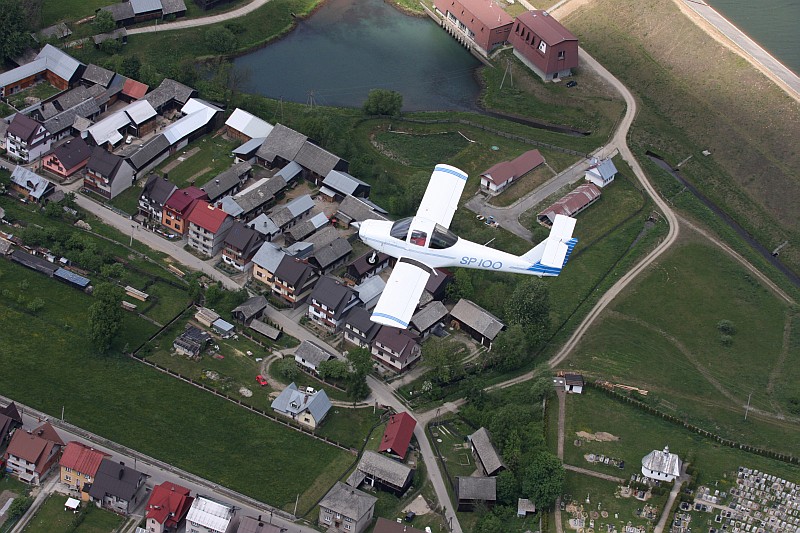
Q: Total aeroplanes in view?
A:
1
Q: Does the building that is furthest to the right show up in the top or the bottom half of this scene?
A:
bottom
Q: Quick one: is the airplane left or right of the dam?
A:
to the left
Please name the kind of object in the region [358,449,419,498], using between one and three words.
barn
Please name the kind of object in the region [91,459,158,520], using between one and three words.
house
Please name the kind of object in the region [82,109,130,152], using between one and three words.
shed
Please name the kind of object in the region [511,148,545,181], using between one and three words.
building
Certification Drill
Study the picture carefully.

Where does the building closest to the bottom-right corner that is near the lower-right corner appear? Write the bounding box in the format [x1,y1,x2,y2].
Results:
[640,441,684,485]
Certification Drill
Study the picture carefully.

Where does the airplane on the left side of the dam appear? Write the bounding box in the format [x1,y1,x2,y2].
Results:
[351,168,580,328]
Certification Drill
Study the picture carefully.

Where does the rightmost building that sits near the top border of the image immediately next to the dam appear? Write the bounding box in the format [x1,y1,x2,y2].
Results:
[511,10,577,80]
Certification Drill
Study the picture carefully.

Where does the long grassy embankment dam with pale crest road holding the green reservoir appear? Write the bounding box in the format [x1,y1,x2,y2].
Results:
[587,0,800,248]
